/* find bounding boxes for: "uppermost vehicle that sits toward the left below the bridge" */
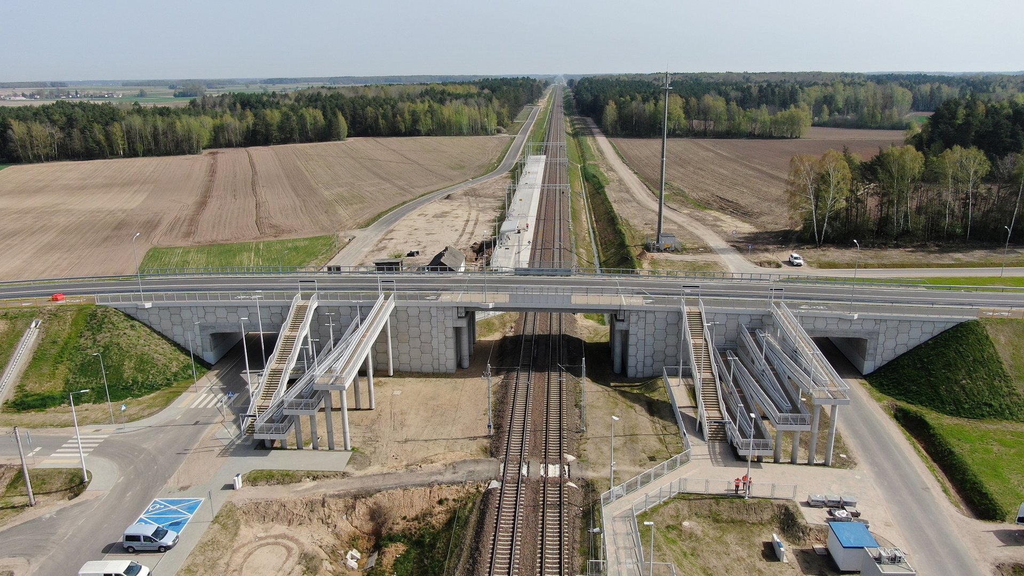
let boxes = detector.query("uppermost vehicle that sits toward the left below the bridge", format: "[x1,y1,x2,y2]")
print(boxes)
[121,521,185,552]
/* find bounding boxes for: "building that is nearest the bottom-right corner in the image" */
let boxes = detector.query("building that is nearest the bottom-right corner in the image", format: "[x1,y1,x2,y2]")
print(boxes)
[866,542,917,576]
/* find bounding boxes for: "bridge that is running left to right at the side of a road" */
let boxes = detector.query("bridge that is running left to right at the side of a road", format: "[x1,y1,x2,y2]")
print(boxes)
[100,275,988,372]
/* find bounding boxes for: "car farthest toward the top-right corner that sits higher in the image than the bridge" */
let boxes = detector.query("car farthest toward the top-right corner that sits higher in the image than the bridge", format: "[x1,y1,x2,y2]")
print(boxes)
[783,254,804,266]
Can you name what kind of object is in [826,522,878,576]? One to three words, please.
building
